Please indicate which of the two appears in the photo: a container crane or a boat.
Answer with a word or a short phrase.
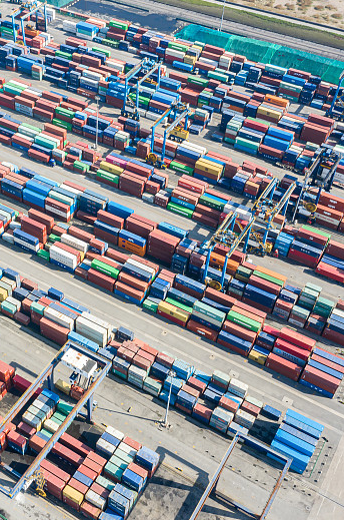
container crane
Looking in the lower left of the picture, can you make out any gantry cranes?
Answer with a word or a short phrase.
Yes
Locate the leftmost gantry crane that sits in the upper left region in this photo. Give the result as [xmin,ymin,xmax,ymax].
[10,0,47,52]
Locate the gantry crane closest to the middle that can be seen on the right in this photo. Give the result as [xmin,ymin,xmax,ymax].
[193,212,253,297]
